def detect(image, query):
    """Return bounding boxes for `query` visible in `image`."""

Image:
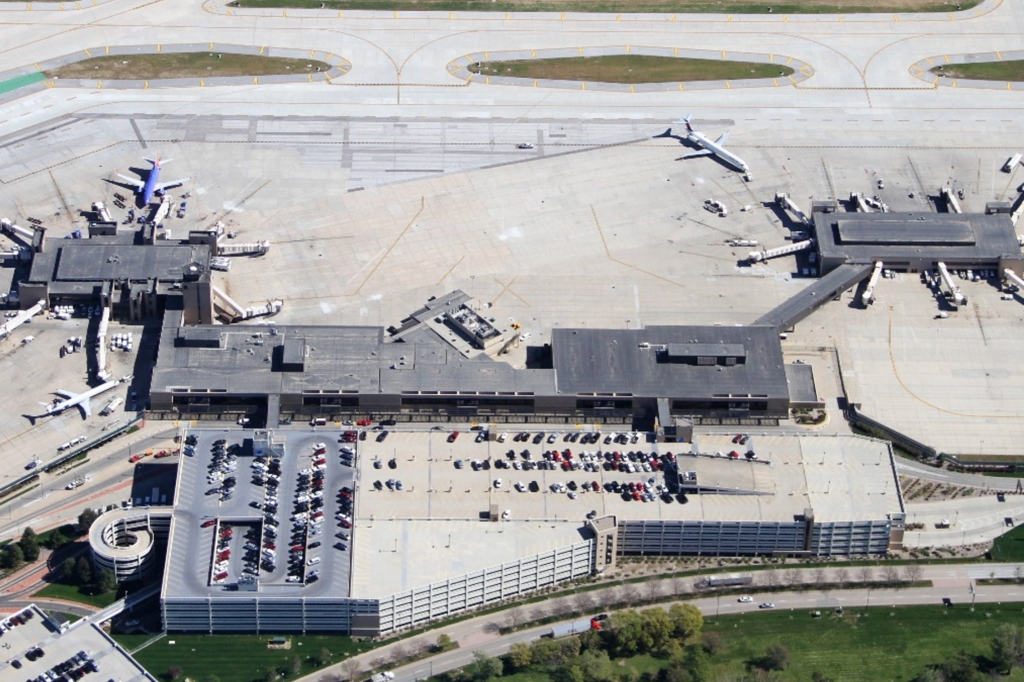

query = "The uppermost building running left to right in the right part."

[811,201,1024,278]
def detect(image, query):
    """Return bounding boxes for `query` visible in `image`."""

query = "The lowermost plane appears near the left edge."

[36,381,119,422]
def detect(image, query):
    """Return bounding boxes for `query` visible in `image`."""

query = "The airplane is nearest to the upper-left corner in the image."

[117,146,187,205]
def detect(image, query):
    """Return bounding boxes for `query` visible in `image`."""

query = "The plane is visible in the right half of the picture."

[679,117,748,172]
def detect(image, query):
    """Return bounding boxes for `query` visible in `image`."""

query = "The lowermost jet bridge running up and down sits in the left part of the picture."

[97,309,110,383]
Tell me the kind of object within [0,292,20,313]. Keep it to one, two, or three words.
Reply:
jet bridge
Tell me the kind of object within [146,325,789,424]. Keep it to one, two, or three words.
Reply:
building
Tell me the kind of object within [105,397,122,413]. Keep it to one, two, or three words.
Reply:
vehicle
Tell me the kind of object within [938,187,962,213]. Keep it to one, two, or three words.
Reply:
jet bridge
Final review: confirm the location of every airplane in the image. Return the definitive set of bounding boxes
[117,146,187,205]
[36,381,119,422]
[679,117,748,172]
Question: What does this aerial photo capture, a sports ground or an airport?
airport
